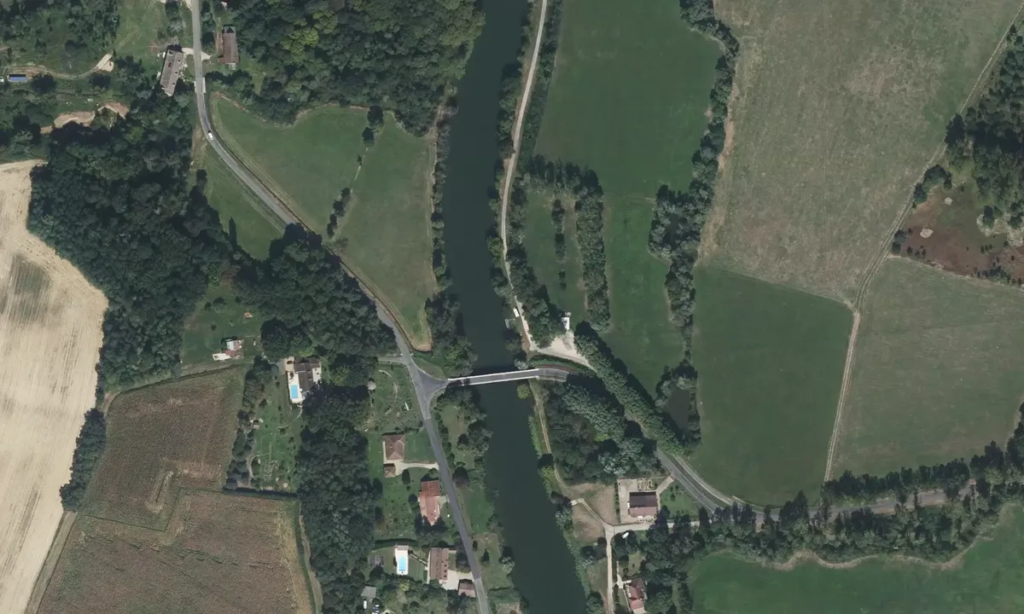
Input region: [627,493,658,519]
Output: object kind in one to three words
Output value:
house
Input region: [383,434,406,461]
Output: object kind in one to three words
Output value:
house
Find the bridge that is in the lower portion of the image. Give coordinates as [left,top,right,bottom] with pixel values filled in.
[446,369,541,387]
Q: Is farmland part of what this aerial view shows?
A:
Yes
